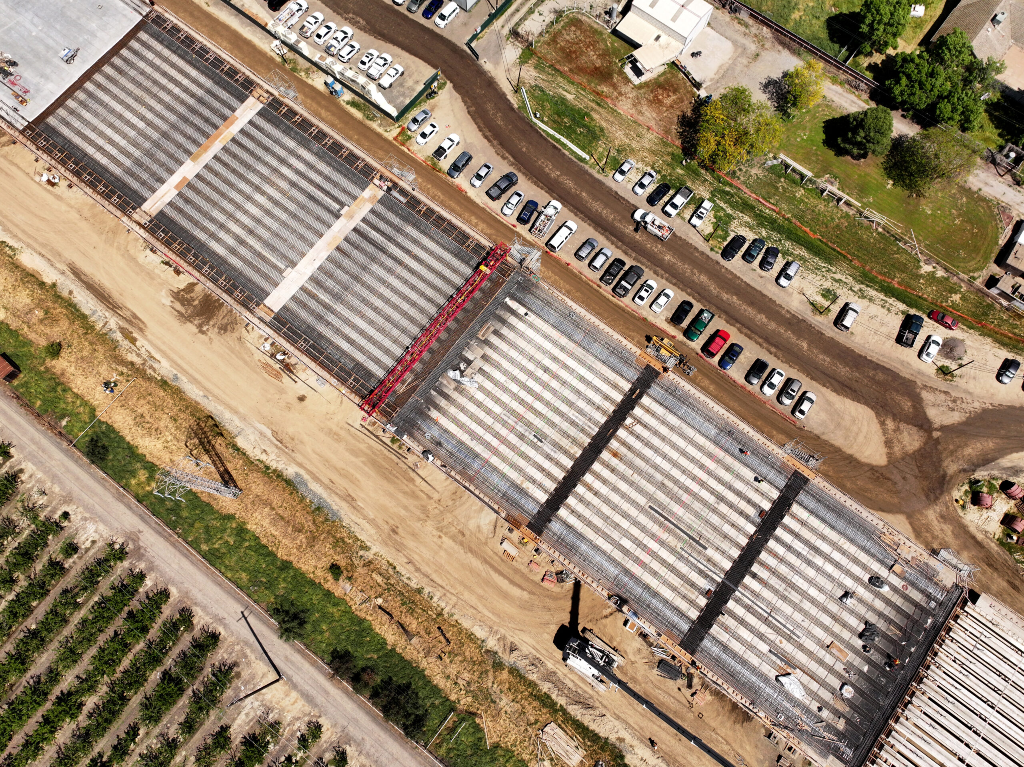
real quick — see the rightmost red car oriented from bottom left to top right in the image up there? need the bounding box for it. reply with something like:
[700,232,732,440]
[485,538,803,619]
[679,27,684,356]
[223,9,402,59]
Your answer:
[703,329,729,360]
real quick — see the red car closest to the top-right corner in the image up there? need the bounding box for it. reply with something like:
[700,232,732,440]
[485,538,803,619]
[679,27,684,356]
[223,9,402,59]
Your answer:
[927,312,959,332]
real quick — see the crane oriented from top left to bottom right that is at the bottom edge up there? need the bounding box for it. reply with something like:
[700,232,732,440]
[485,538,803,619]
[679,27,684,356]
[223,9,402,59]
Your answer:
[558,628,725,767]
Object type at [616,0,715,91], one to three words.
building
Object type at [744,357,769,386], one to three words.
car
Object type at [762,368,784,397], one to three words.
car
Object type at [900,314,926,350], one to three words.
truck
